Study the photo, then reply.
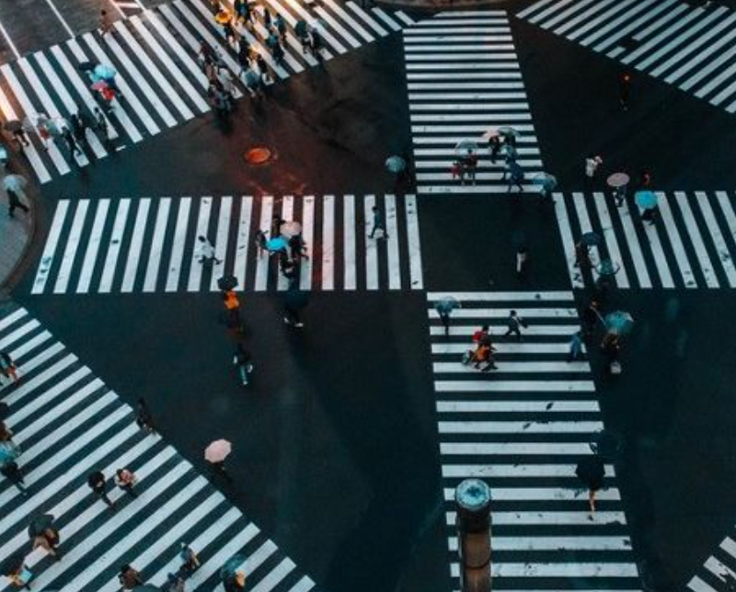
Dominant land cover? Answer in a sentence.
For the most part, this view shows paved ground.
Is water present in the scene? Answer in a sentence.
No, the picture contains no water.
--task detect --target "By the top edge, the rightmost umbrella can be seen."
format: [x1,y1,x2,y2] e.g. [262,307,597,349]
[293,21,312,34]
